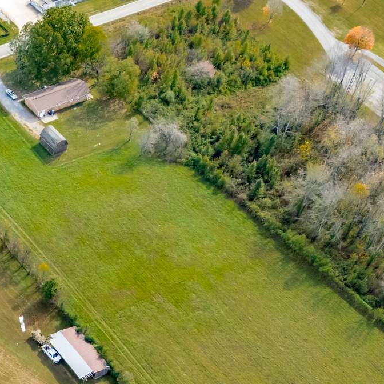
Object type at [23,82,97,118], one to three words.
house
